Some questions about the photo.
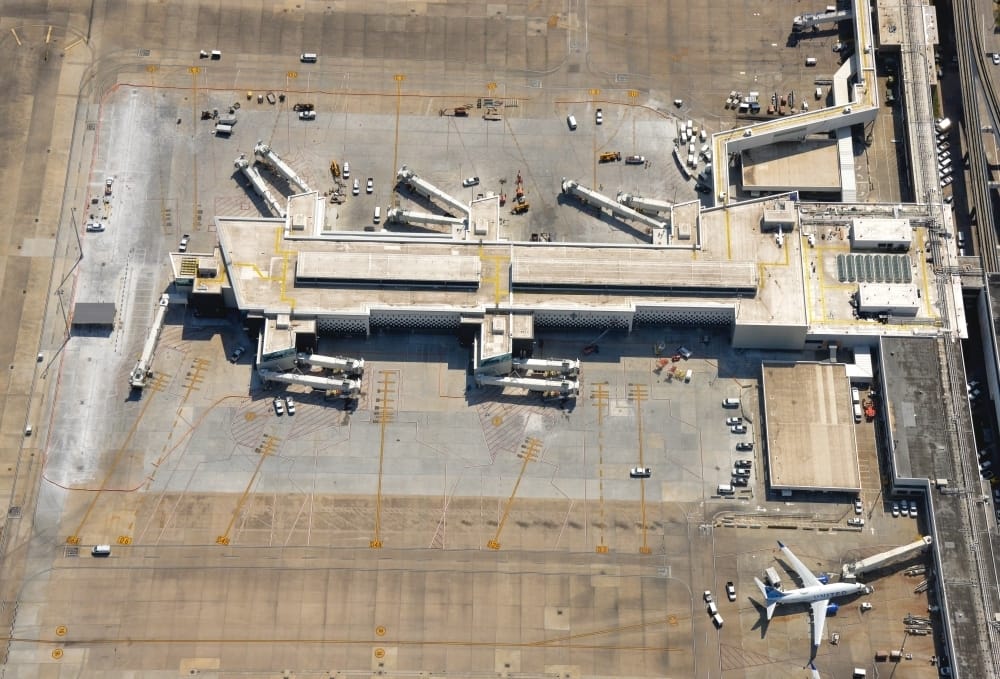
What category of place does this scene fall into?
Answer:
airport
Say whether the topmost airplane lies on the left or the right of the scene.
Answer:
right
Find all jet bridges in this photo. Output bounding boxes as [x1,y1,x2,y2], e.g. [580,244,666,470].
[511,358,585,380]
[249,143,313,194]
[474,372,585,401]
[379,208,470,232]
[609,193,675,217]
[258,369,367,401]
[229,156,287,220]
[553,182,668,230]
[784,14,849,34]
[391,169,470,220]
[842,535,934,587]
[297,353,370,380]
[130,295,188,397]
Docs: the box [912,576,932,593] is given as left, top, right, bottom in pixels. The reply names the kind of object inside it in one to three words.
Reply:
work vehicle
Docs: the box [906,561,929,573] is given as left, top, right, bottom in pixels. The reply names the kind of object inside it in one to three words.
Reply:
vehicle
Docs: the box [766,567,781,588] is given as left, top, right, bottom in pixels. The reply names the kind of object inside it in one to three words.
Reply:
vehicle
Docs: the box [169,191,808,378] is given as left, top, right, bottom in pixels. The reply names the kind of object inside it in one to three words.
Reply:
building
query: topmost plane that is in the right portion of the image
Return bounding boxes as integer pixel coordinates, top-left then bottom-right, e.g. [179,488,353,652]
[758,542,865,647]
